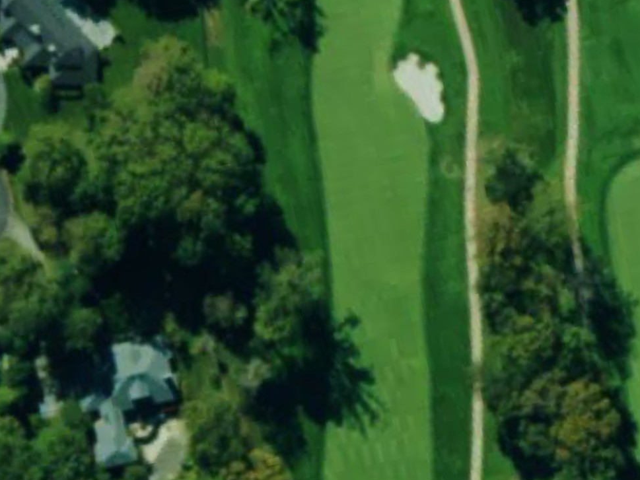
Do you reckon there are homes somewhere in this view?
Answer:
Yes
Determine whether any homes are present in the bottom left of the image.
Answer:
Yes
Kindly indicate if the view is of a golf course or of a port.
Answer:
golf course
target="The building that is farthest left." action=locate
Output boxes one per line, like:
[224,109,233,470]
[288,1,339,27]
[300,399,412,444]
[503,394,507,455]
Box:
[0,0,97,86]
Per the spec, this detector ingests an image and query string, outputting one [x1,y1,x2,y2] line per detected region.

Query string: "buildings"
[75,345,173,466]
[0,0,97,86]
